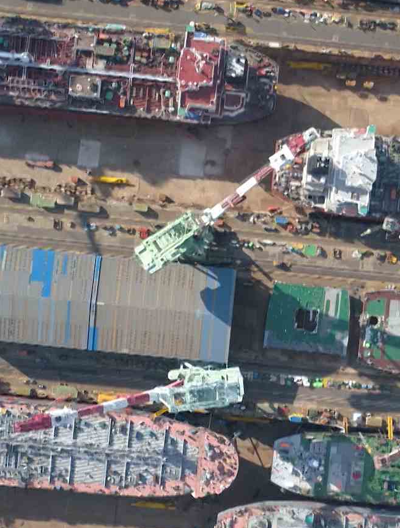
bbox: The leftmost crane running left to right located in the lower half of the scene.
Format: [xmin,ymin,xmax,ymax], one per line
[7,357,249,425]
